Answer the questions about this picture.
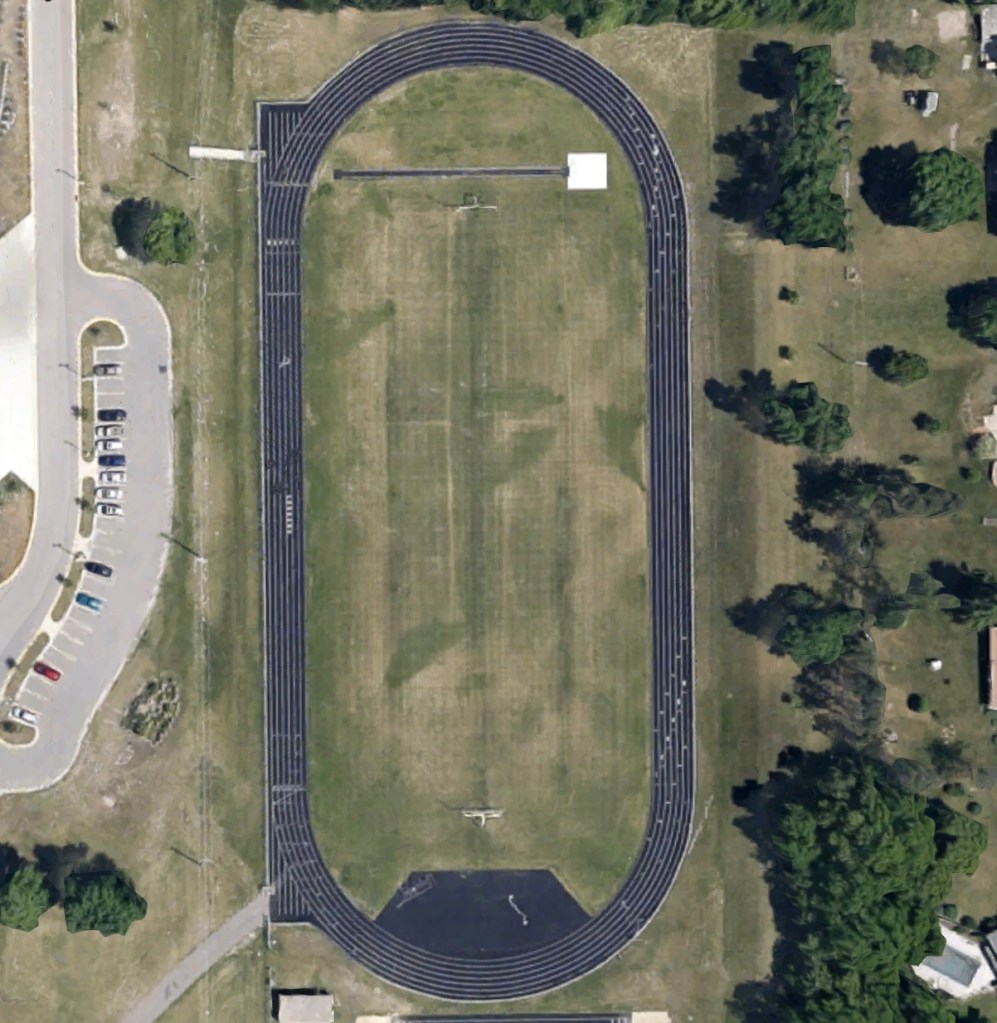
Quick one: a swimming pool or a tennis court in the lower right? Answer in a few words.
swimming pool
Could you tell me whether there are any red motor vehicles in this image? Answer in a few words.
Yes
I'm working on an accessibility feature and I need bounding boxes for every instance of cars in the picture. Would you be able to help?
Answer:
[96,503,124,515]
[33,661,62,681]
[9,705,38,724]
[96,488,123,498]
[96,425,123,437]
[76,593,104,609]
[84,561,113,576]
[97,408,127,422]
[100,471,127,483]
[95,440,123,452]
[98,454,126,468]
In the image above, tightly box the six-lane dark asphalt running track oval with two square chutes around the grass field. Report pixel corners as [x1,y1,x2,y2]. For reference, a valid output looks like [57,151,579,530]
[257,23,694,1000]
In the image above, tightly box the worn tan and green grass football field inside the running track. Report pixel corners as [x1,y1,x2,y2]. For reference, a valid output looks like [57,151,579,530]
[302,65,652,922]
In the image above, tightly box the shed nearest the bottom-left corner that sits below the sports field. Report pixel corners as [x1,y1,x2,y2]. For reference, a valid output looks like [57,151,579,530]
[277,993,333,1023]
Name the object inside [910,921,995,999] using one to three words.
swimming pool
